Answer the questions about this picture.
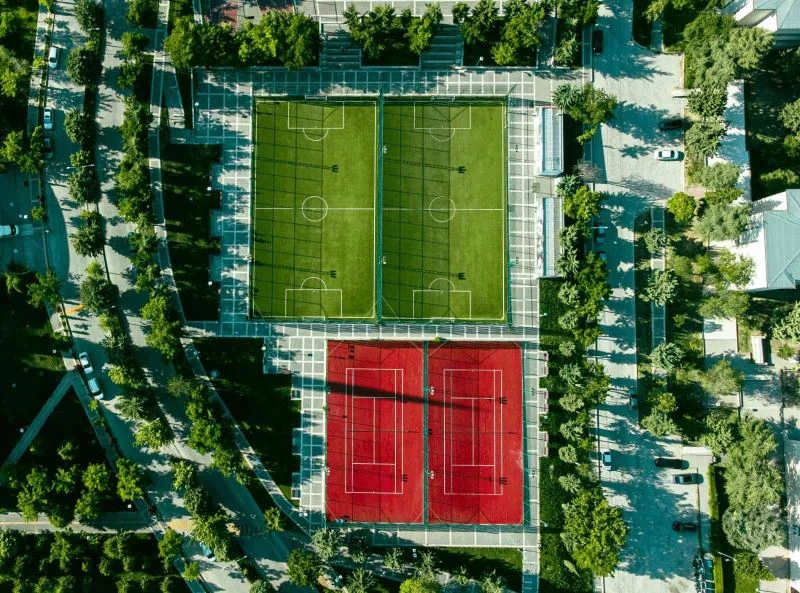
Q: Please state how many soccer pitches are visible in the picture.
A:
2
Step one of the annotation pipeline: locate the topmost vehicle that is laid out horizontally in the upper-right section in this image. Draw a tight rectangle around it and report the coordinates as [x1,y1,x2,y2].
[657,117,681,130]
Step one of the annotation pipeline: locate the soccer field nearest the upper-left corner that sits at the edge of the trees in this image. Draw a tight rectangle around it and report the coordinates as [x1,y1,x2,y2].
[250,95,376,321]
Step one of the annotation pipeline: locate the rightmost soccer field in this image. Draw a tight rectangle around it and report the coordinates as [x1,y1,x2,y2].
[380,96,511,322]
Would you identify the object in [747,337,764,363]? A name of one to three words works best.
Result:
shed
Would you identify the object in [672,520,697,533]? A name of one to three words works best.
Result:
vehicle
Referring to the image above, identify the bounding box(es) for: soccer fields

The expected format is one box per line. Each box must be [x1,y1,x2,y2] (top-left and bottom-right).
[250,95,376,321]
[380,96,511,322]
